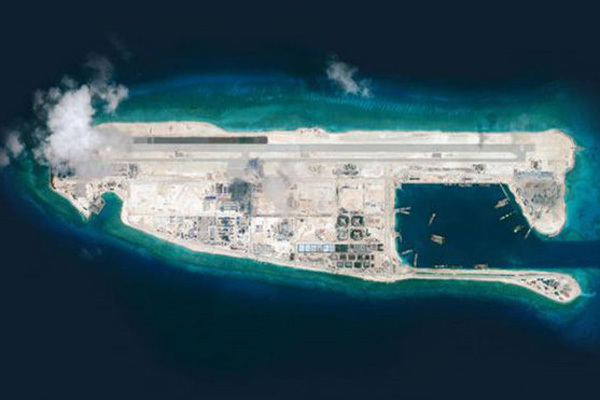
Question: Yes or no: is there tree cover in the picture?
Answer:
No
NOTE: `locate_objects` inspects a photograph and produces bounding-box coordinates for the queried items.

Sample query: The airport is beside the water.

[104,137,535,172]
